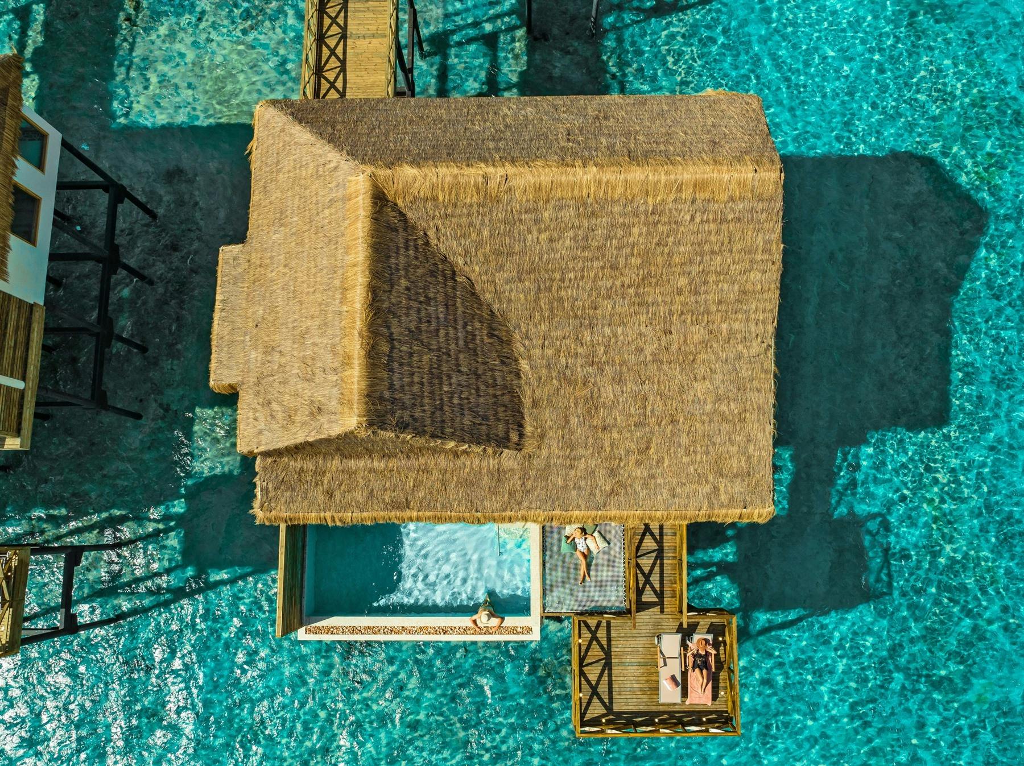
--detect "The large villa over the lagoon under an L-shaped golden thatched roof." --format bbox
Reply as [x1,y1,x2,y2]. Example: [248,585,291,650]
[211,88,790,523]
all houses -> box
[0,50,160,461]
[211,88,790,523]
